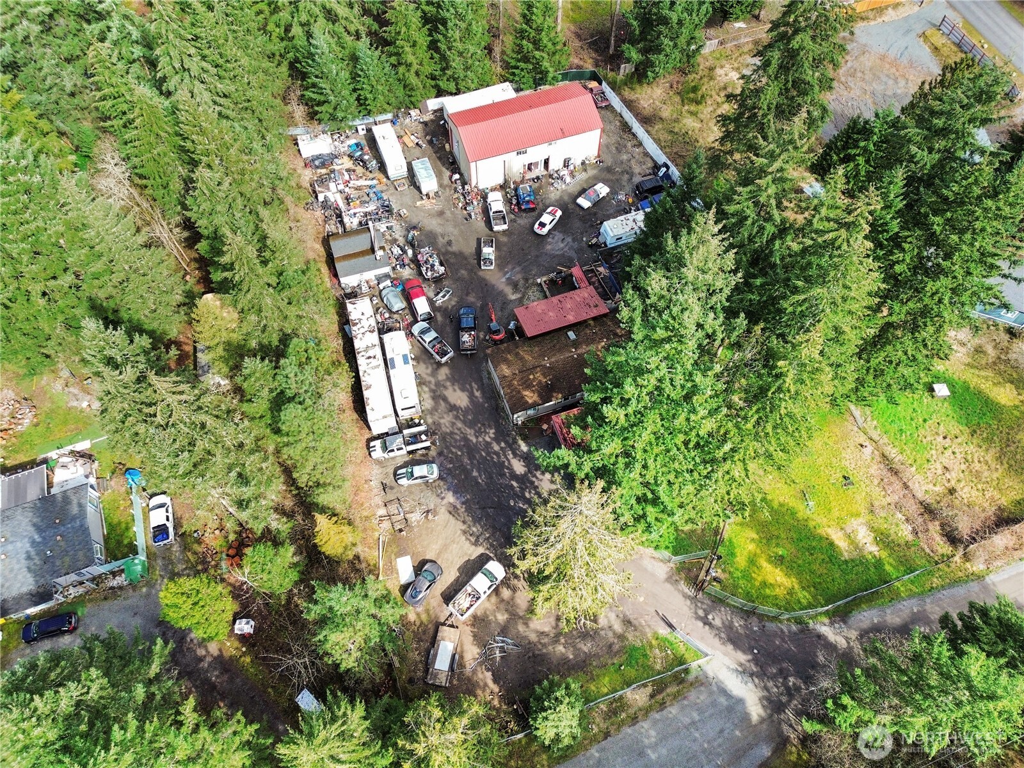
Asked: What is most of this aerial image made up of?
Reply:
trees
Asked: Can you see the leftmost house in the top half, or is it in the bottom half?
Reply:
bottom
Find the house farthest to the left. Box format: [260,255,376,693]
[0,476,108,639]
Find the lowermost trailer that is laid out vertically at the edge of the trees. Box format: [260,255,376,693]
[425,615,461,687]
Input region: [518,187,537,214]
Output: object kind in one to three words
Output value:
vehicle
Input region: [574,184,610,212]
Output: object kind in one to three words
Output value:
car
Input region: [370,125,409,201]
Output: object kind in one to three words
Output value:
trailer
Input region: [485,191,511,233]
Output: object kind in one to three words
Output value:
truck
